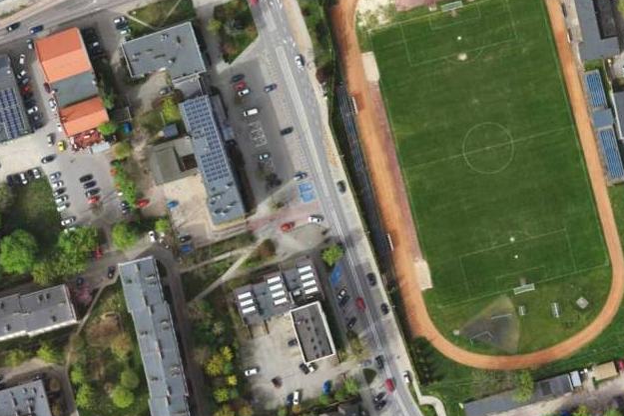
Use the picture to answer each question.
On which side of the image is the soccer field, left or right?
right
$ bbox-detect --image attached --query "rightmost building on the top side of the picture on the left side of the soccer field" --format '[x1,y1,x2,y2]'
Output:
[177,94,246,228]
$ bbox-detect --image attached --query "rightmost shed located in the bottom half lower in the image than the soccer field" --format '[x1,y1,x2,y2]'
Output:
[592,360,617,382]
